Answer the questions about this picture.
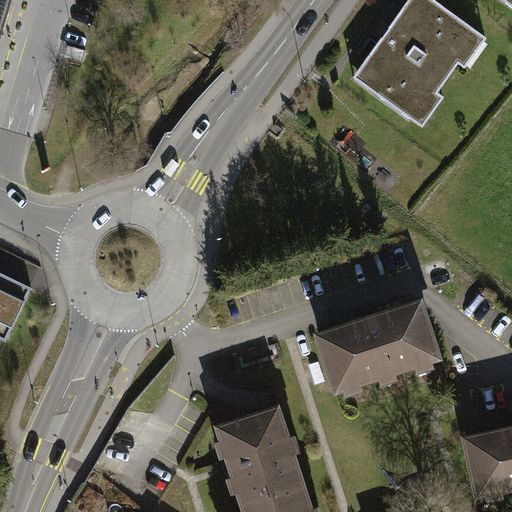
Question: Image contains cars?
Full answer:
Yes, there is a car in the image.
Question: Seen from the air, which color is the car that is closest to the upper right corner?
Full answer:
The car that is closest to the upper right corner looks black in the image.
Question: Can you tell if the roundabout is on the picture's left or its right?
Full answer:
It is on the left.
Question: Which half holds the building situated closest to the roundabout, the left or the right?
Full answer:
The building situated closest to the roundabout appears in the left half of the scene.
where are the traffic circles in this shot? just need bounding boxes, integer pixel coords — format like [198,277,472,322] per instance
[58,188,198,330]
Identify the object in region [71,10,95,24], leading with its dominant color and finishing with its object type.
black vehicle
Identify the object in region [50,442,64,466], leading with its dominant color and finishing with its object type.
black car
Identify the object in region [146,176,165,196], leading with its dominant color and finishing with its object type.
white car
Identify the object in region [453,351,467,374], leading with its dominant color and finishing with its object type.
white car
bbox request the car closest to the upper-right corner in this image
[296,11,316,34]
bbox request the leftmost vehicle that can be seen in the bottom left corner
[23,437,36,462]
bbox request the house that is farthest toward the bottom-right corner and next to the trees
[460,426,512,500]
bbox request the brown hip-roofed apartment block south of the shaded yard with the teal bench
[213,405,317,512]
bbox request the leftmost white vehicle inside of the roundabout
[92,210,112,230]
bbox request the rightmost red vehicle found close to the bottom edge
[147,476,166,491]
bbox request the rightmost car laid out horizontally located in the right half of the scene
[428,269,452,282]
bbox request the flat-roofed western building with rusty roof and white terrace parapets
[0,274,32,341]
